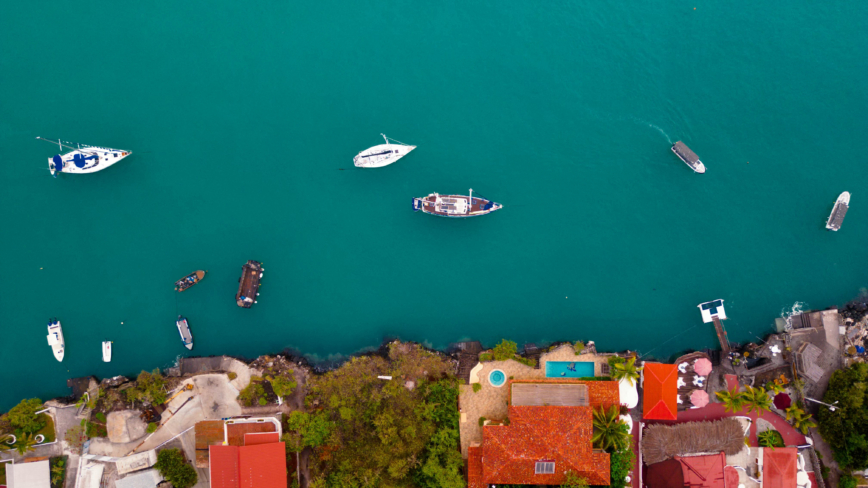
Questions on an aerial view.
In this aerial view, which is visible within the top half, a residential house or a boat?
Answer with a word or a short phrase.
boat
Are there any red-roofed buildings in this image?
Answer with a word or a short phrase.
Yes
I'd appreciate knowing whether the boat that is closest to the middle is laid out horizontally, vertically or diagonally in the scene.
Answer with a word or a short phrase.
horizontally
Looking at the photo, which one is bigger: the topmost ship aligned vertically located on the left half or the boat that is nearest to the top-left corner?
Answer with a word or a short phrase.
the boat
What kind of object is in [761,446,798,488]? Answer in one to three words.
house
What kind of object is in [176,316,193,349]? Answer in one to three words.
boat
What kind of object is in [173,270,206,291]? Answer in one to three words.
boat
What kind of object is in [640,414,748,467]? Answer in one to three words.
building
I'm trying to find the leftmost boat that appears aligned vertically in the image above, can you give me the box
[47,315,66,362]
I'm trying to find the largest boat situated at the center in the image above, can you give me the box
[412,189,503,217]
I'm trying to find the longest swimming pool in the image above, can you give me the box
[545,360,595,379]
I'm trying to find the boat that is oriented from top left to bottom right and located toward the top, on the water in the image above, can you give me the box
[669,141,706,173]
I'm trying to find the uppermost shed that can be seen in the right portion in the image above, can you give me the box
[698,298,728,323]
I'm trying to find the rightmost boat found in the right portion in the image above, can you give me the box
[825,192,852,232]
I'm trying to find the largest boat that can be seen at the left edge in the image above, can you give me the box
[35,136,131,176]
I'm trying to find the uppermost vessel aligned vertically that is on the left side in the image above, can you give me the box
[236,261,264,308]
